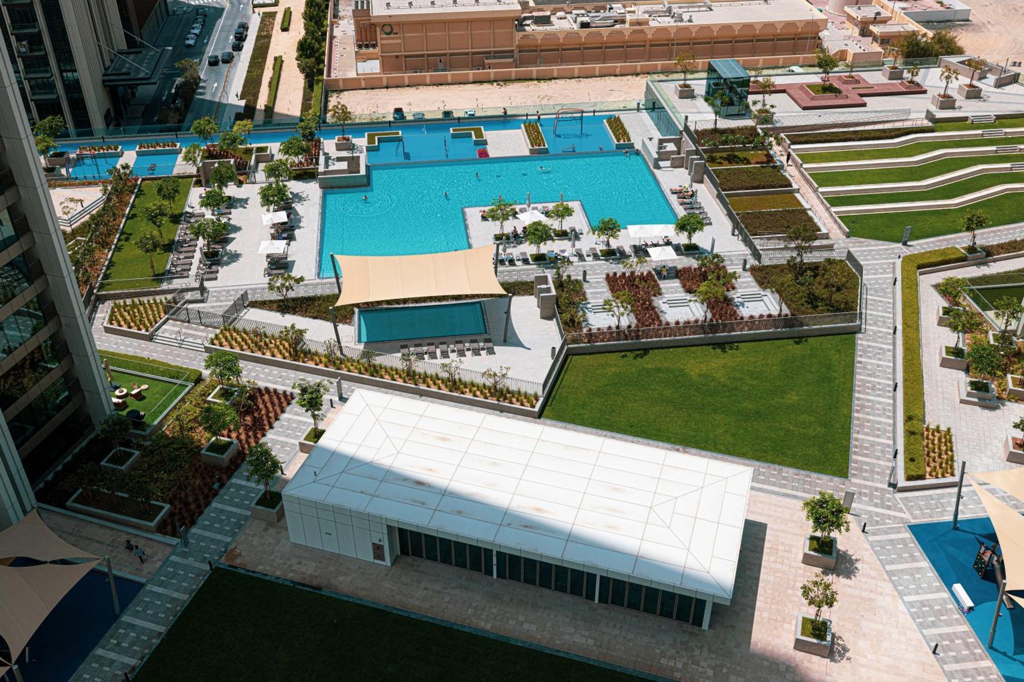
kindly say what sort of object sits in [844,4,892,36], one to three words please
shed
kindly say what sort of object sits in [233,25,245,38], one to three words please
vehicle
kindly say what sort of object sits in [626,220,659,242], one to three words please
umbrella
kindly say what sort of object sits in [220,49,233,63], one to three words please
vehicle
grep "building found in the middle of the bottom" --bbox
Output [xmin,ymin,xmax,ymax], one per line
[282,389,753,632]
